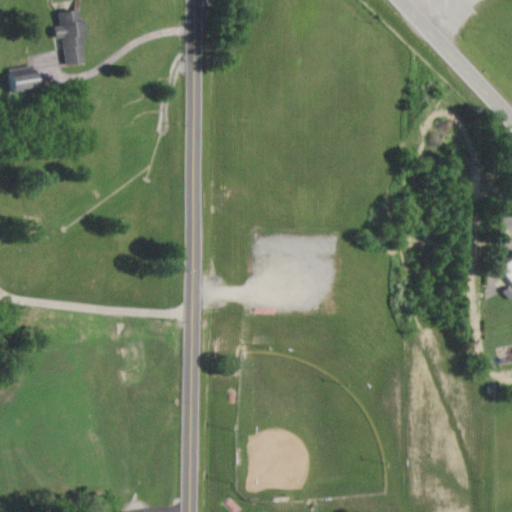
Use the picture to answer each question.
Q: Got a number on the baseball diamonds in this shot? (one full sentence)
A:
In total, there is 1 baseball diamond in the scene.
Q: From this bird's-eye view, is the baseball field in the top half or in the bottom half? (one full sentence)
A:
Seen from above, the baseball field lies in the bottom half of the view.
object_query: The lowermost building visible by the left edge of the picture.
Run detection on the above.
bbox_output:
[8,66,42,92]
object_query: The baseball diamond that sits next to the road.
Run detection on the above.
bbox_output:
[236,350,385,502]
